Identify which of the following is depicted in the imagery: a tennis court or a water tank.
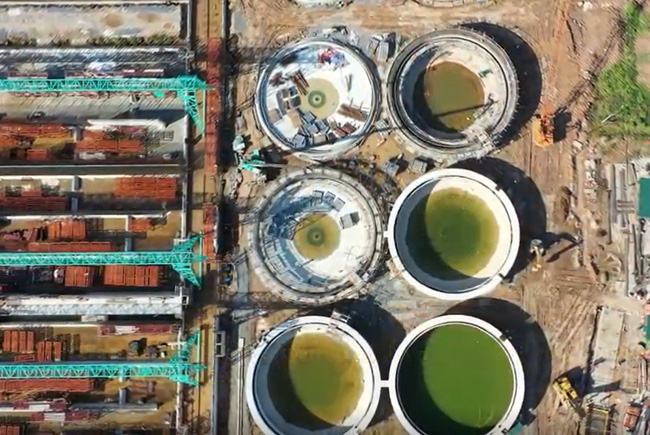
water tank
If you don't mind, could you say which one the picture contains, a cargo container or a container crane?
container crane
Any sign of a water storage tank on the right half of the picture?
Yes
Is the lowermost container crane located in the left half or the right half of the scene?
left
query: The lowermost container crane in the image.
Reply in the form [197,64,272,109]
[0,328,205,390]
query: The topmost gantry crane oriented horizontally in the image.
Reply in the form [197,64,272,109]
[0,76,213,135]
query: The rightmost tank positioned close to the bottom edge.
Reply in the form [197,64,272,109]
[385,311,525,435]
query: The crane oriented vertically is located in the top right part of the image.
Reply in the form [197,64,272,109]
[526,20,566,145]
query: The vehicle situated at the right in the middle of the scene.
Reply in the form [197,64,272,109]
[525,234,553,266]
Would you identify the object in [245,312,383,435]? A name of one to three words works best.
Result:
water tank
